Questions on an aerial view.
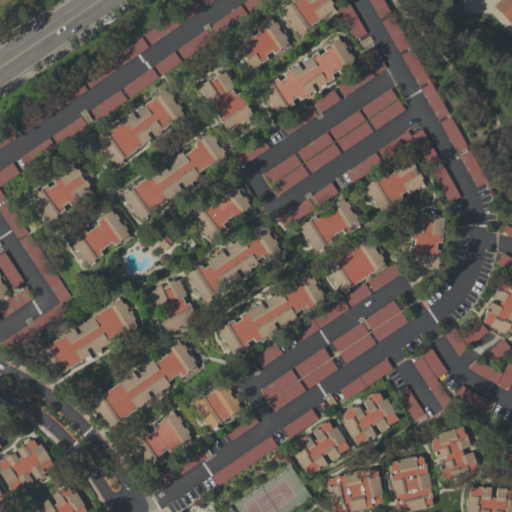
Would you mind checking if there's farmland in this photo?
No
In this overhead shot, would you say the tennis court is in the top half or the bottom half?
bottom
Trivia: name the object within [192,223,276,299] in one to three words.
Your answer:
house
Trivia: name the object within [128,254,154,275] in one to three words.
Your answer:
swimming pool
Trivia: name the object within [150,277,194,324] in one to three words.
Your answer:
house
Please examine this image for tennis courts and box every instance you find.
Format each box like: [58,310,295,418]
[229,467,310,512]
